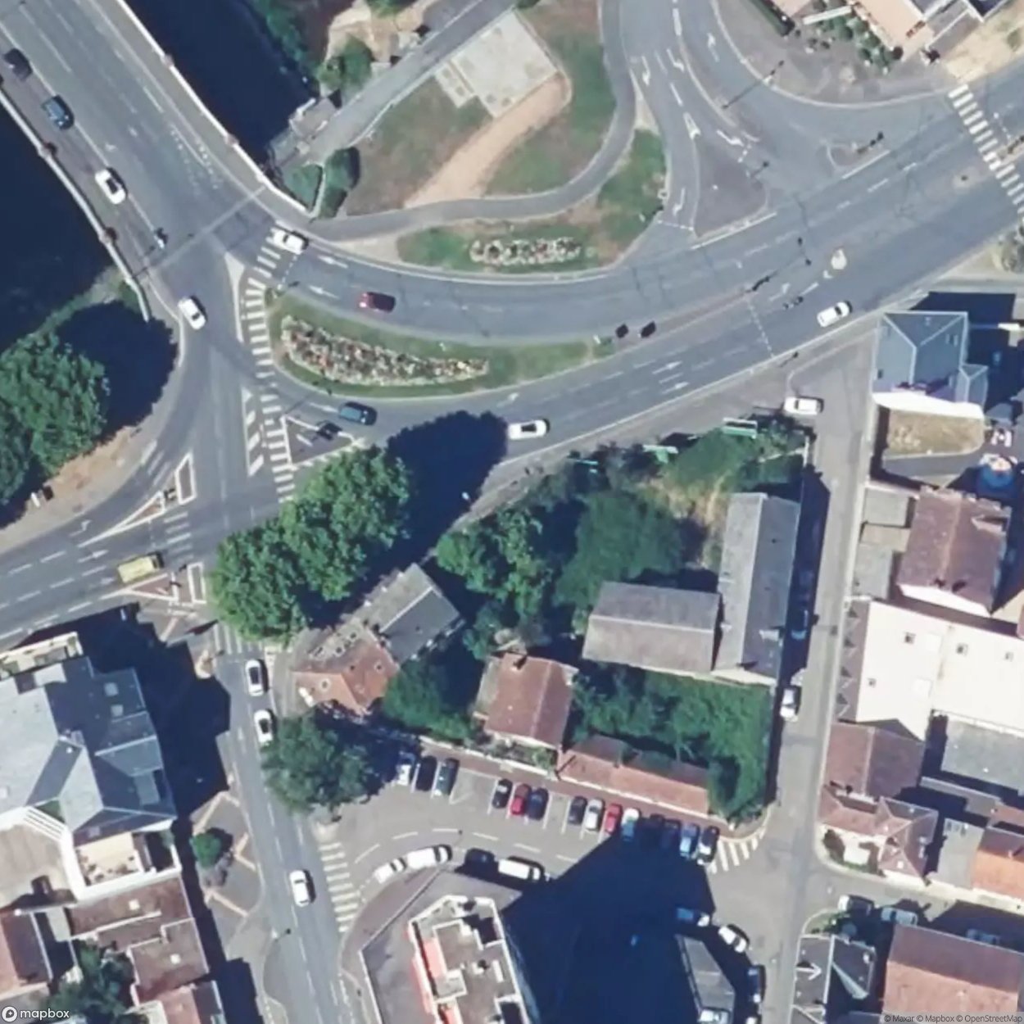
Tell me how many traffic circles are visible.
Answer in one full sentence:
No traffic circles are visible.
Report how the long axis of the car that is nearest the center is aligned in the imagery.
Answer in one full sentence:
I'd say the car that is nearest the center is aligned horizontally in the picture.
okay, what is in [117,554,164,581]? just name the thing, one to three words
vehicle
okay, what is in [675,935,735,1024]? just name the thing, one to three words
building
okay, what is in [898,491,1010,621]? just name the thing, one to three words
house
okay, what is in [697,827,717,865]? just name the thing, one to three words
car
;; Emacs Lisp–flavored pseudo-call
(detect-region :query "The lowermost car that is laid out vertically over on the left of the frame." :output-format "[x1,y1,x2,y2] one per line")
[292,870,311,905]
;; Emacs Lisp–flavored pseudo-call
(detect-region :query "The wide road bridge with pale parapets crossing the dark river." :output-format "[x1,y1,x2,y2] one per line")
[0,0,360,267]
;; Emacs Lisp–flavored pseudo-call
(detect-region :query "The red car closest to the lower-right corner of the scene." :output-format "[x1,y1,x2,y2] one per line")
[602,802,622,836]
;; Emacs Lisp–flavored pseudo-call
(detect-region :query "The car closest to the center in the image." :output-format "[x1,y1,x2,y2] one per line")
[509,419,548,439]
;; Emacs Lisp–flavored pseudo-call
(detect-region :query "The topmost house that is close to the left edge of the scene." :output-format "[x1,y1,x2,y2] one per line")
[0,657,175,848]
